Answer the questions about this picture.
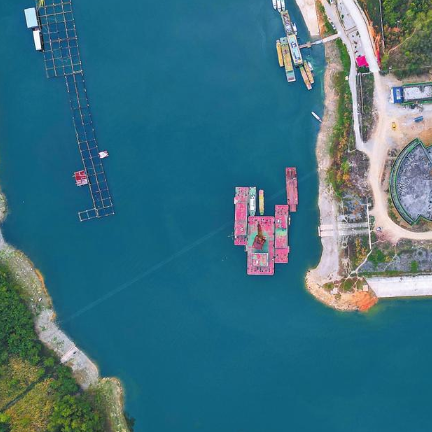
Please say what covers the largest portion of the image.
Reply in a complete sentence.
Most of the picture is covered by water.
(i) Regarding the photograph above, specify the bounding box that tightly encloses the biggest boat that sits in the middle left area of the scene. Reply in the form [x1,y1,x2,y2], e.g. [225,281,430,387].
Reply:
[75,170,90,185]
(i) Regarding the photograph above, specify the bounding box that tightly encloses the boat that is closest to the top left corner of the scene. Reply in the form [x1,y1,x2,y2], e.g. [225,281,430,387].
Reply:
[25,8,42,31]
